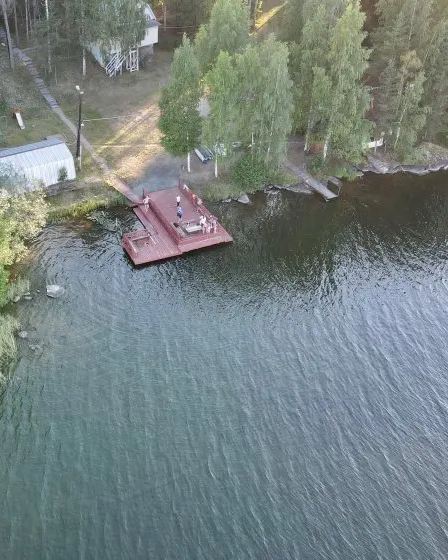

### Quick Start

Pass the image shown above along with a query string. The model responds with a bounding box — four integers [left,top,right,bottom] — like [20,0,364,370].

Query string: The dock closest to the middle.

[123,173,233,268]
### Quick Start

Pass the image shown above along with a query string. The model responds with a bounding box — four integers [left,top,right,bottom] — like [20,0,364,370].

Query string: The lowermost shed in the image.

[0,136,77,187]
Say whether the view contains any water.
Yes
